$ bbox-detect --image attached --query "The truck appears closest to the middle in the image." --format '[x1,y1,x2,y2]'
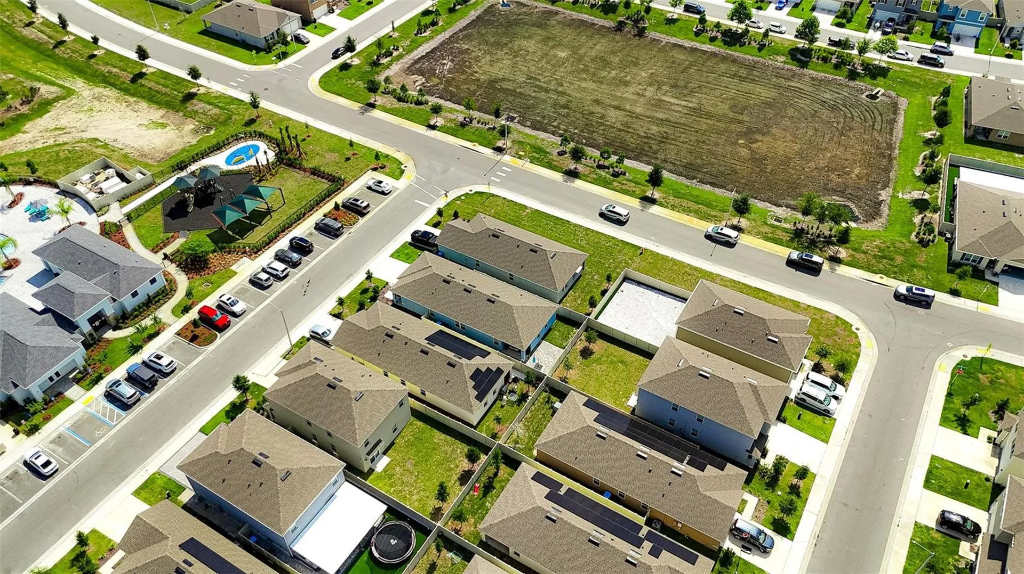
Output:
[407,229,441,252]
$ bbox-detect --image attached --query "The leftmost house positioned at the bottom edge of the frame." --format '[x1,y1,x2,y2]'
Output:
[114,498,279,574]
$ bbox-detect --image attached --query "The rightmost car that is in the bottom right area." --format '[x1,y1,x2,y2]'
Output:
[931,506,986,545]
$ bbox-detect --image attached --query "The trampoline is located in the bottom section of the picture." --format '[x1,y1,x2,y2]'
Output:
[367,519,417,571]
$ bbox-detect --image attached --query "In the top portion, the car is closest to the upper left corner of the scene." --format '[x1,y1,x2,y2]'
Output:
[289,32,312,44]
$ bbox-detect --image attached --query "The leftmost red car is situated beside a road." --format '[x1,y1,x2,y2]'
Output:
[195,306,230,333]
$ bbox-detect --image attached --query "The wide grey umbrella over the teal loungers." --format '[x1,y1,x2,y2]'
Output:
[22,194,48,214]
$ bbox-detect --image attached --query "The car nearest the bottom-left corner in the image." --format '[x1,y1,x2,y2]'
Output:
[21,450,61,481]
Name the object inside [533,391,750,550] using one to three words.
house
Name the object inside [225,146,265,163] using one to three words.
swimming pool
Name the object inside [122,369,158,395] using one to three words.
car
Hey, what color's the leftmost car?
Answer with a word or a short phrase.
white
